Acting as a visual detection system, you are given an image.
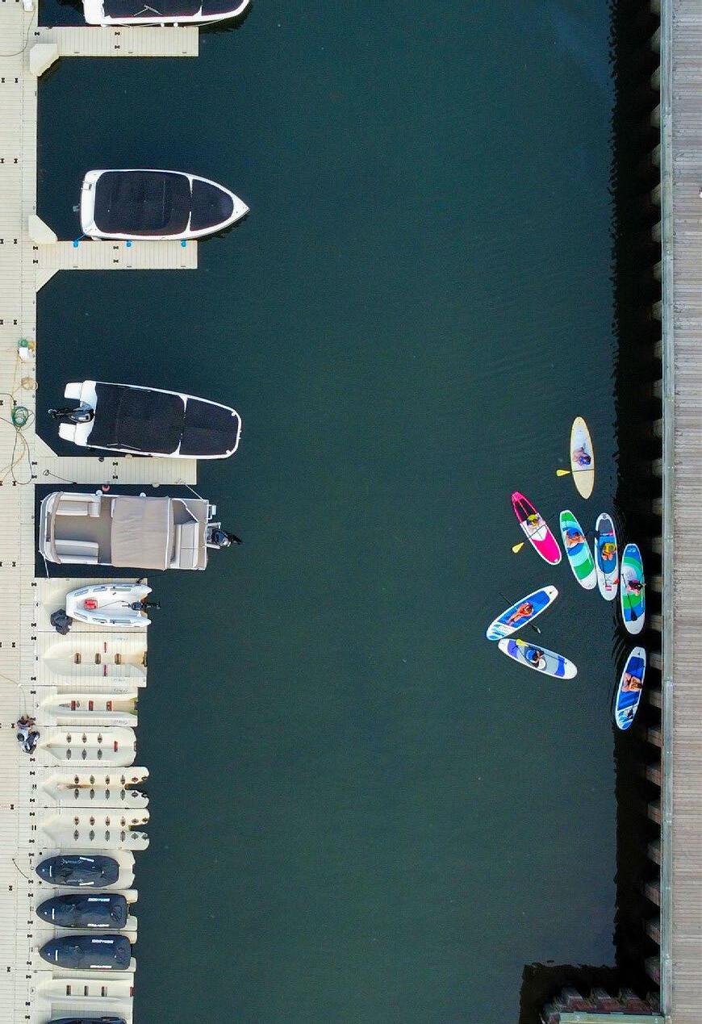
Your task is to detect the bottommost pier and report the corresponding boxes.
[532,986,661,1024]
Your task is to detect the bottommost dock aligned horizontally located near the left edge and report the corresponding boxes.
[32,434,198,484]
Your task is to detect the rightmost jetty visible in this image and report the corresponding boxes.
[648,0,702,1024]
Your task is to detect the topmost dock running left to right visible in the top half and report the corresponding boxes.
[31,28,200,84]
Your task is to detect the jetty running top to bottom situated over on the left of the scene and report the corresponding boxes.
[0,0,41,1024]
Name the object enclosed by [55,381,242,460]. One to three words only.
boat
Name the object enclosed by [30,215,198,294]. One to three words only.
pier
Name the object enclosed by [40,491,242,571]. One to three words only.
boat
